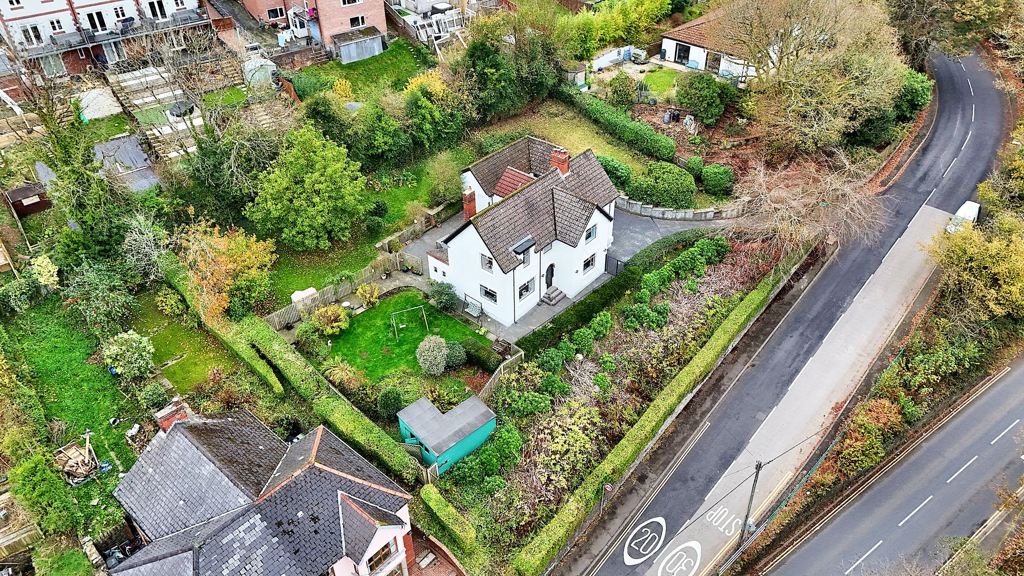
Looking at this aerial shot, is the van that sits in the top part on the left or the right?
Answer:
right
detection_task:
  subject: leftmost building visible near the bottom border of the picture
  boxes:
[104,397,415,576]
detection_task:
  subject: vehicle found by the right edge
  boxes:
[949,194,986,236]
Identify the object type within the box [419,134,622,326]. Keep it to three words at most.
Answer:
house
